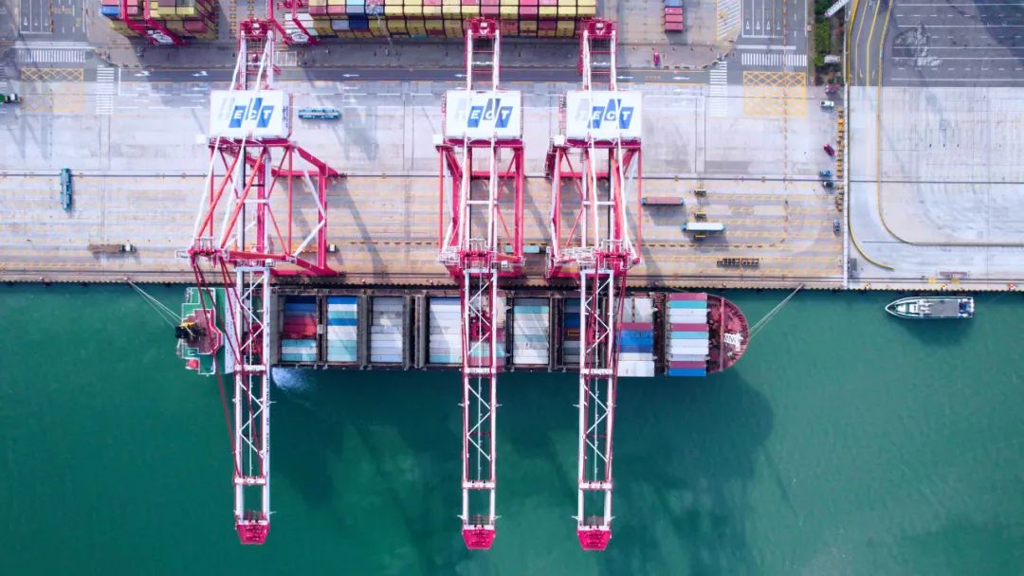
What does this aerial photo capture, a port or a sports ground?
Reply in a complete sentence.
This image shows a port.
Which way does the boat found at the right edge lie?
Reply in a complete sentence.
The boat found at the right edge is oriented from left to right.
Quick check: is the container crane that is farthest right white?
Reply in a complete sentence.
Yes, white is the color of the container crane that is farthest right.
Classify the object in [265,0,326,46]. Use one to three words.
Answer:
container crane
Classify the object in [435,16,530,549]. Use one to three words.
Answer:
container crane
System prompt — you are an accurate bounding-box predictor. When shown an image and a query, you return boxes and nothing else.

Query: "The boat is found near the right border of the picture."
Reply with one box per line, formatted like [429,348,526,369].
[886,296,976,318]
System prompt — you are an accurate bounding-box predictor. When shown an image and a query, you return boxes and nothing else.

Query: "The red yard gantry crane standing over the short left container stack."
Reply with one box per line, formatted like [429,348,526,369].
[111,0,188,45]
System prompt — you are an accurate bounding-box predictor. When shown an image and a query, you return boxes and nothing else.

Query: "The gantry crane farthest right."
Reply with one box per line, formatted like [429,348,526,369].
[539,17,647,550]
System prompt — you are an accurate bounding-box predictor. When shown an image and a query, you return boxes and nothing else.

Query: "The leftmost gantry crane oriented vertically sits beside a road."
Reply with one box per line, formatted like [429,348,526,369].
[188,14,346,547]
